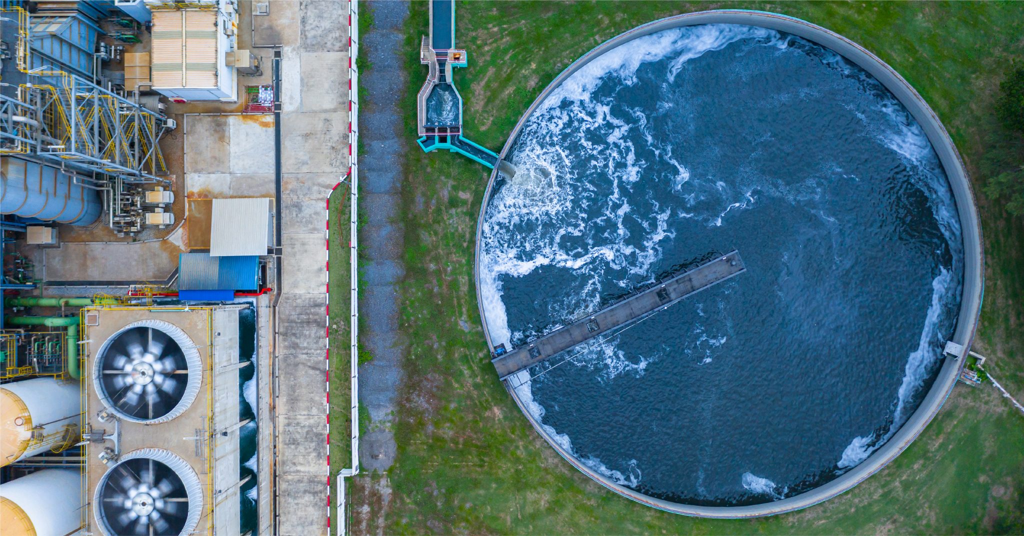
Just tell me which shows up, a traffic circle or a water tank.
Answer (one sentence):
Of the two, only a water tank appears.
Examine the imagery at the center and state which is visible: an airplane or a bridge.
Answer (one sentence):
The feature located at the center is a bridge.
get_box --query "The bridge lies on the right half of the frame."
[491,245,748,381]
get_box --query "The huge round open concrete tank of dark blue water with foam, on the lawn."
[475,10,984,519]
